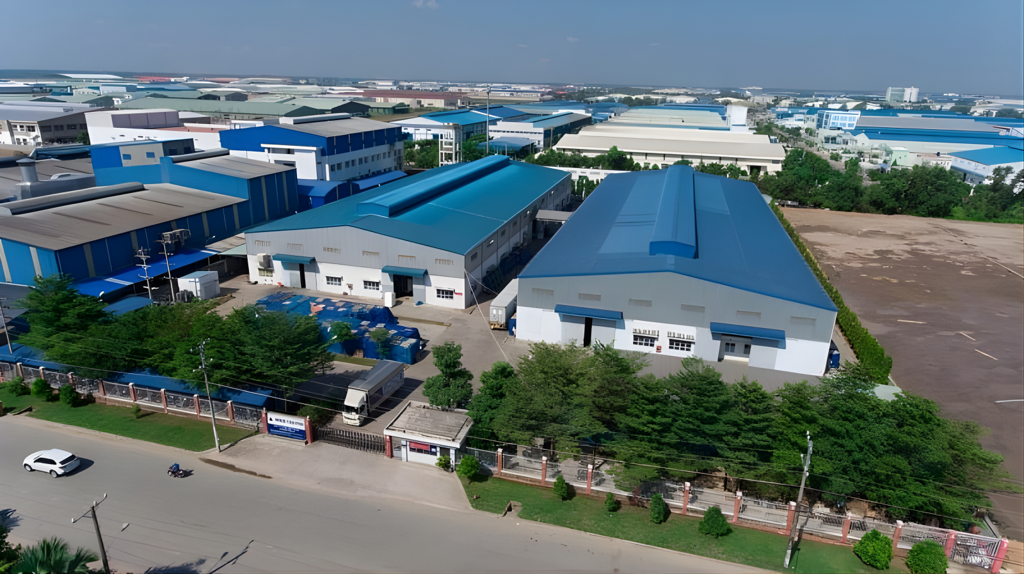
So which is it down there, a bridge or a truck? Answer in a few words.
truck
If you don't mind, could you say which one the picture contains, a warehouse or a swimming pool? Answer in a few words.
warehouse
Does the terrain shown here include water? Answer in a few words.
No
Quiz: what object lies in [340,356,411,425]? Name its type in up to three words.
truck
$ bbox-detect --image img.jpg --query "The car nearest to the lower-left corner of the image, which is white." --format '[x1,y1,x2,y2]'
[22,447,83,477]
